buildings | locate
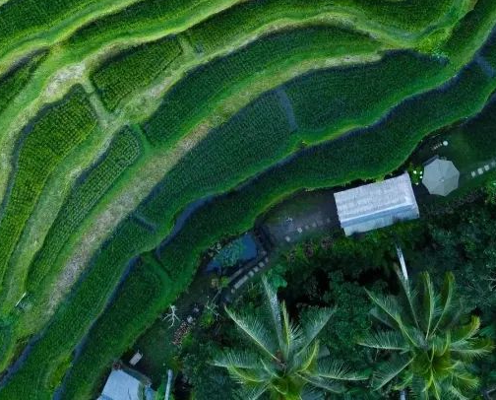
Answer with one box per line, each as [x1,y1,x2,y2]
[334,169,420,237]
[94,365,156,400]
